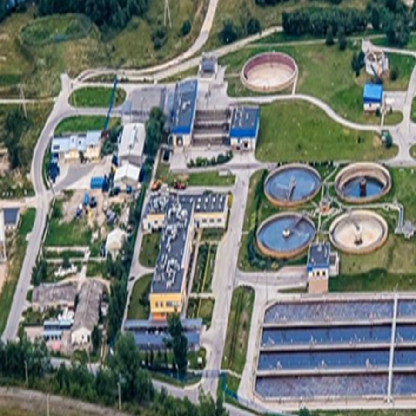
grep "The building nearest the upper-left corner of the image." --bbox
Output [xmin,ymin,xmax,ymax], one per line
[50,130,103,163]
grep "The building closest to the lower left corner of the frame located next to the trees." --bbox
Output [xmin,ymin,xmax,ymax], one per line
[42,320,72,344]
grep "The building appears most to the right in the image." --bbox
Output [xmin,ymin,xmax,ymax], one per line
[361,83,383,112]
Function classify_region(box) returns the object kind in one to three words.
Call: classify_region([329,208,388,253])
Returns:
storage tank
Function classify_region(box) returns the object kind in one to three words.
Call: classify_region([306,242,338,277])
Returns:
building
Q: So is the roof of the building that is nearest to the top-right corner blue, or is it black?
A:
blue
